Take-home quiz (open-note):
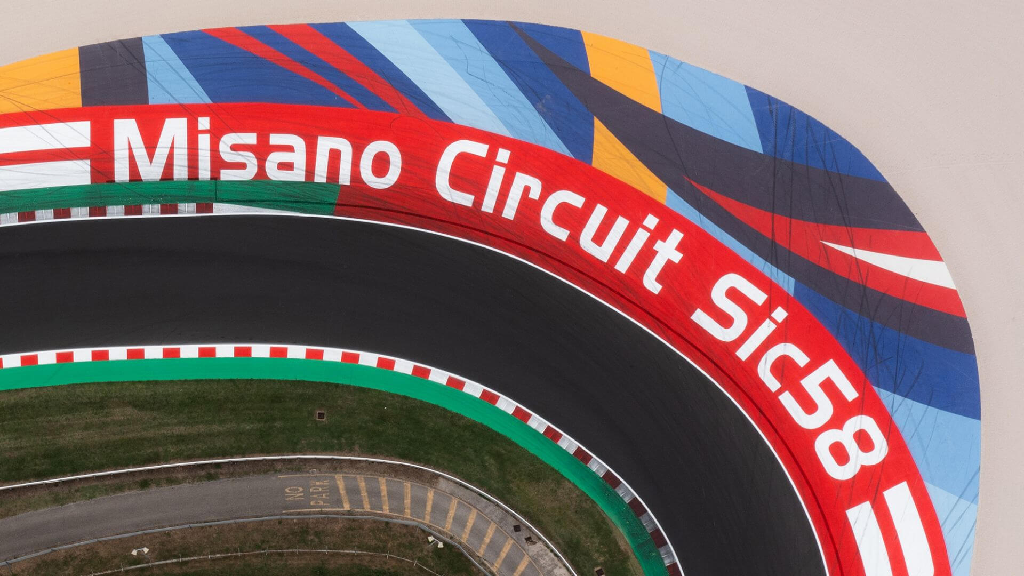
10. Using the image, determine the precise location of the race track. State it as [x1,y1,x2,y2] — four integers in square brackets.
[0,213,830,576]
